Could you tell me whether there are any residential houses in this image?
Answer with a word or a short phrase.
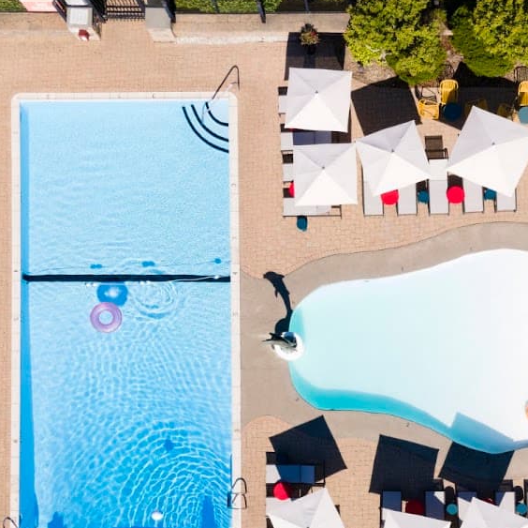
No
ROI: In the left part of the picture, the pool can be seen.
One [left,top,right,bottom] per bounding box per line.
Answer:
[7,92,240,528]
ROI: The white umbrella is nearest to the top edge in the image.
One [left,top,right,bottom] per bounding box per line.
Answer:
[283,66,351,133]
